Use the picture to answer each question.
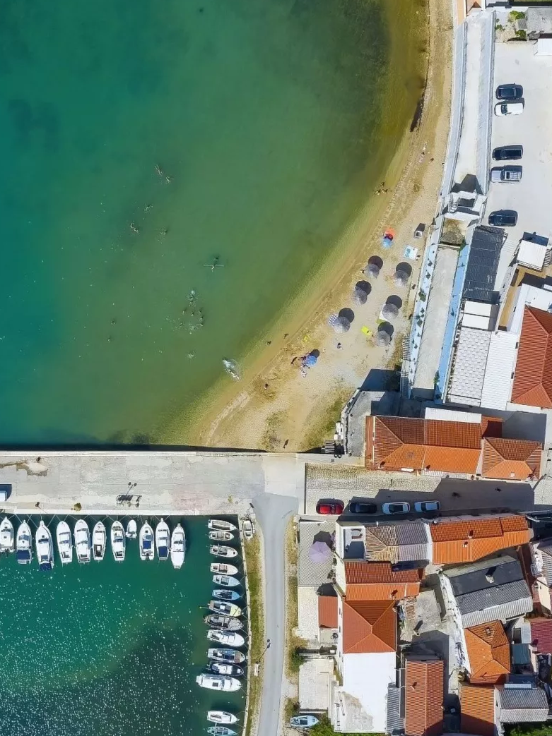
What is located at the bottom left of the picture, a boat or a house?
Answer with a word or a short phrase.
boat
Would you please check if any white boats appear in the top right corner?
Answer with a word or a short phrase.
No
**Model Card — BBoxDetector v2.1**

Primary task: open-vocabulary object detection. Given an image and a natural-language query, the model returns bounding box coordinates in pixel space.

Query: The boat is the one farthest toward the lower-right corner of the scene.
[289,715,318,727]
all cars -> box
[413,500,440,512]
[348,501,376,515]
[495,103,523,117]
[316,500,344,514]
[497,86,522,100]
[491,167,521,183]
[488,211,517,225]
[493,146,522,160]
[381,501,409,515]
